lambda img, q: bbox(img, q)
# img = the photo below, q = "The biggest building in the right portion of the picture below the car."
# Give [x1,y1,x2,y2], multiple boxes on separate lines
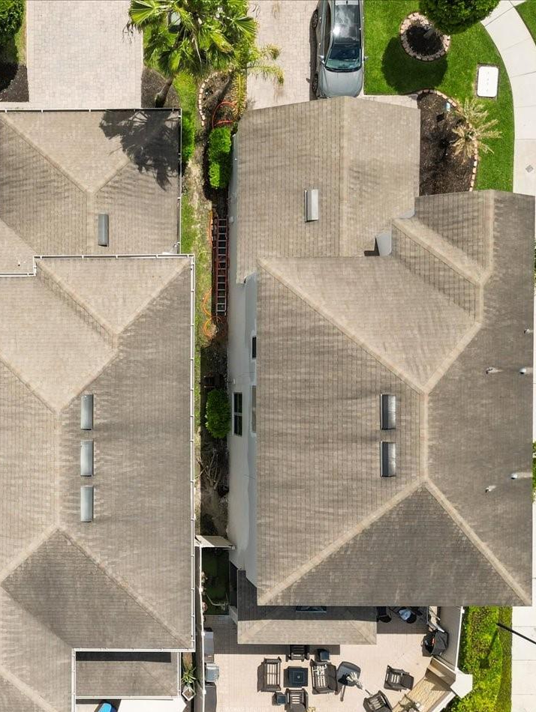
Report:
[229,96,534,646]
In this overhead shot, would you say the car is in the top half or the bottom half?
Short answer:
top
